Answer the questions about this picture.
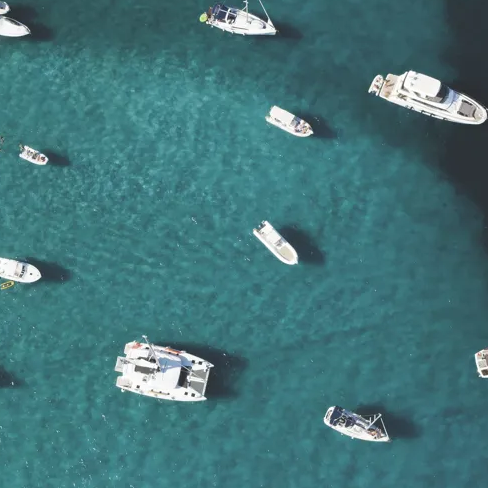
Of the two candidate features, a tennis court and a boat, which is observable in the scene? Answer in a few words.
boat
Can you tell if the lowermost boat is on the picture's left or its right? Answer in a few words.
right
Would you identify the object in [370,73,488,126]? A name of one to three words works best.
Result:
boat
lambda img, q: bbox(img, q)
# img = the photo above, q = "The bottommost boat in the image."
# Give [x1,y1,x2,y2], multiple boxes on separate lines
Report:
[326,407,392,442]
